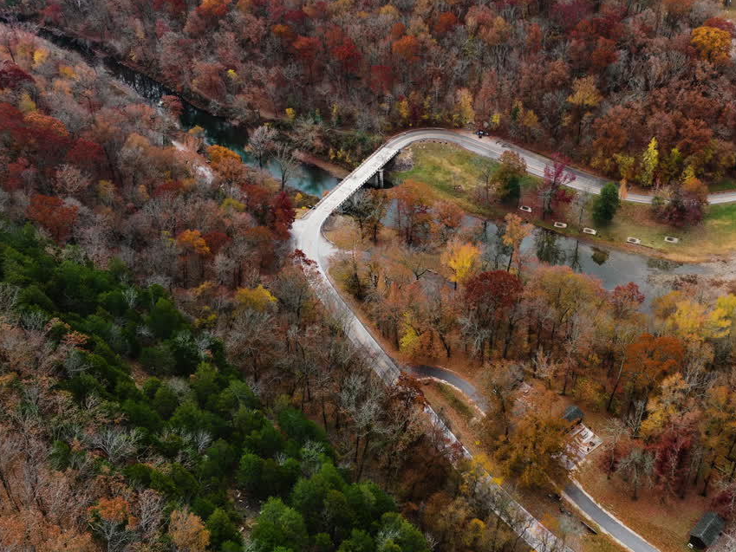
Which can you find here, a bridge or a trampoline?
bridge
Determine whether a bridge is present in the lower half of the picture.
No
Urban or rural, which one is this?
rural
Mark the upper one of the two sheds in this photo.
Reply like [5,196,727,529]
[561,403,587,428]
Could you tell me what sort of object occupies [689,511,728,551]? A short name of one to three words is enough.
shed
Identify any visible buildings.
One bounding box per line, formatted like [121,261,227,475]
[689,511,728,551]
[561,403,587,428]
